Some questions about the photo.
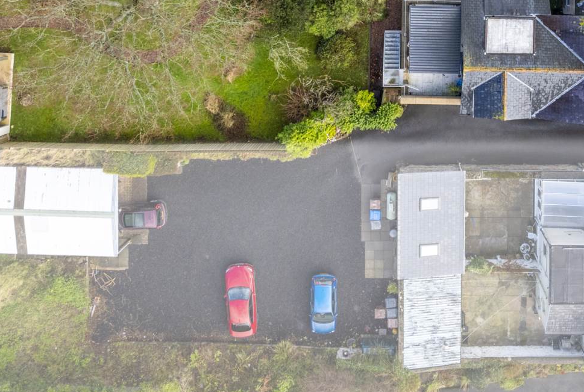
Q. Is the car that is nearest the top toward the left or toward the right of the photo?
left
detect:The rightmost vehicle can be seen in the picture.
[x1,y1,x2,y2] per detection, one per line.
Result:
[307,272,339,332]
